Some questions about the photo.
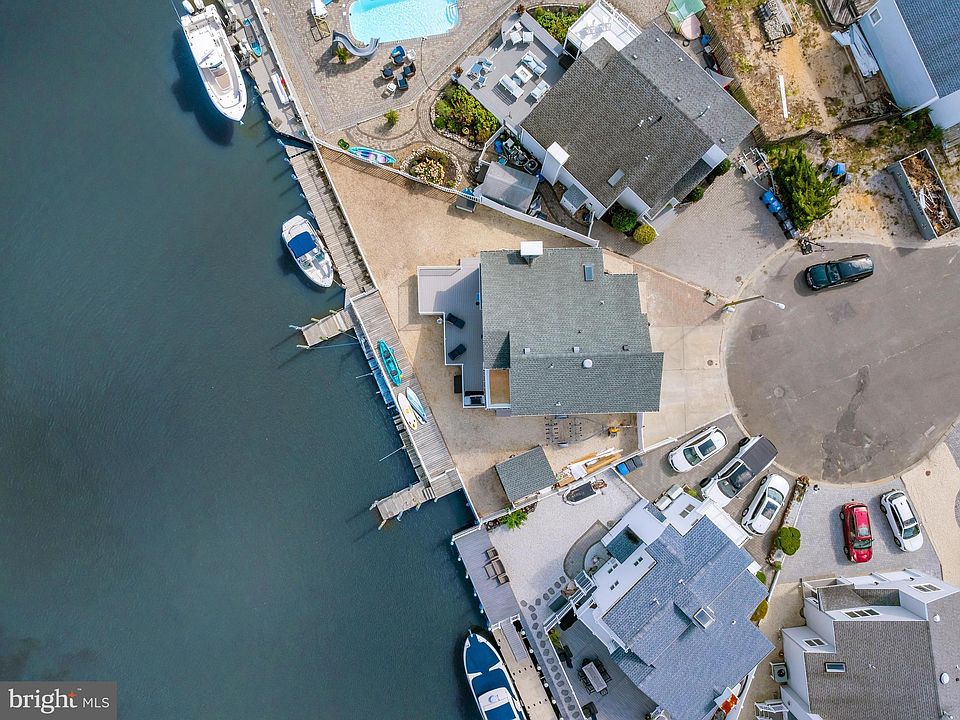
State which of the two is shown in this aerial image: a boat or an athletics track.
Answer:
boat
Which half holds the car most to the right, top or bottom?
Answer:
bottom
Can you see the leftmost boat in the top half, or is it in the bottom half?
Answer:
top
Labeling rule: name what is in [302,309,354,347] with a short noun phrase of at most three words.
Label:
pier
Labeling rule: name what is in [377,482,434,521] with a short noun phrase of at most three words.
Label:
pier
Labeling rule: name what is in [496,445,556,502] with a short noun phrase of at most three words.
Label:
shed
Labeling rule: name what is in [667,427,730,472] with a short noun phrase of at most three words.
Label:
car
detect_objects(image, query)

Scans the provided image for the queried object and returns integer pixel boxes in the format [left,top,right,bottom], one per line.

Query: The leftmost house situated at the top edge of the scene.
[458,0,758,236]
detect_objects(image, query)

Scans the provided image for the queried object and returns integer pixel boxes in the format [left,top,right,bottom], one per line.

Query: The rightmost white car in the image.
[878,488,923,554]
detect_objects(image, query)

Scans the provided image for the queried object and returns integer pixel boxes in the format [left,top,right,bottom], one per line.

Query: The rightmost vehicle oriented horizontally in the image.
[804,253,878,292]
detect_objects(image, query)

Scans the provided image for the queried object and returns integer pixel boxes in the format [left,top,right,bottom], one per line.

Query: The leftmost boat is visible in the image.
[166,0,247,121]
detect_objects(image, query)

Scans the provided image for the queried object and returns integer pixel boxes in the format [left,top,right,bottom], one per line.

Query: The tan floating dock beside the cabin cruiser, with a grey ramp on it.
[490,613,560,720]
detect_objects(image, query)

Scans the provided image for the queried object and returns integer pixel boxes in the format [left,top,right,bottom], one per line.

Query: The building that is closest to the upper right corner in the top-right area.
[858,0,960,170]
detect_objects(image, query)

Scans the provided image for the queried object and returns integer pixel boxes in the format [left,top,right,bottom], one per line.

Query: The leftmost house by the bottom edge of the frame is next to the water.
[543,488,776,720]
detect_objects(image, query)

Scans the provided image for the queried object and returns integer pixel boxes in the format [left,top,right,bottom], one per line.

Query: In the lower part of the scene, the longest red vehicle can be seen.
[839,501,877,562]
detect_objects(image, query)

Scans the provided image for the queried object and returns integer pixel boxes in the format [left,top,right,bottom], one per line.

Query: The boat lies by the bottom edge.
[464,630,523,720]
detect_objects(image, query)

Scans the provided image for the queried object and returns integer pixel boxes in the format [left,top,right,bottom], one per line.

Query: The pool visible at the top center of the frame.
[344,0,464,48]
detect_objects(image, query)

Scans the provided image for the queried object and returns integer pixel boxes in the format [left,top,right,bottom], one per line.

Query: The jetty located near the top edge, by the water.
[235,0,311,140]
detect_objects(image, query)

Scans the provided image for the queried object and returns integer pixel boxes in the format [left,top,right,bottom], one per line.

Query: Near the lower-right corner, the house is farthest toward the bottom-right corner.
[751,563,960,720]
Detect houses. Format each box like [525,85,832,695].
[458,0,758,236]
[858,0,960,170]
[751,563,960,720]
[543,488,776,720]
[417,241,664,417]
